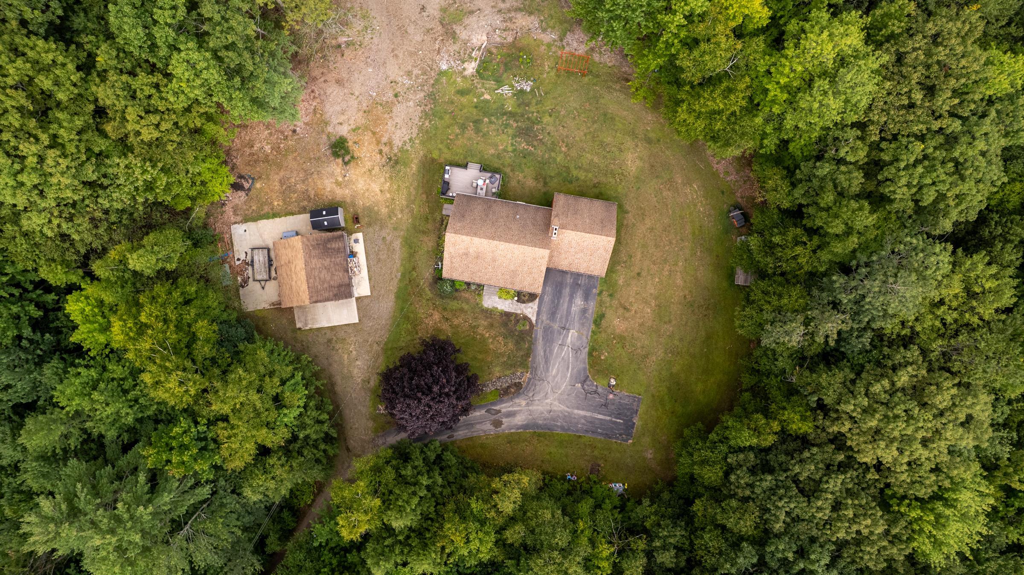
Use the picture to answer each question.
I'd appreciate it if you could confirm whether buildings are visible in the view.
Yes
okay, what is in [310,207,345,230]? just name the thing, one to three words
shed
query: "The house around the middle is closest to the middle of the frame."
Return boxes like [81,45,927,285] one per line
[442,191,617,296]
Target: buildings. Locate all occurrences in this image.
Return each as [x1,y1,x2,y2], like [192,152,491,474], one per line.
[442,191,617,296]
[273,232,356,307]
[310,207,345,230]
